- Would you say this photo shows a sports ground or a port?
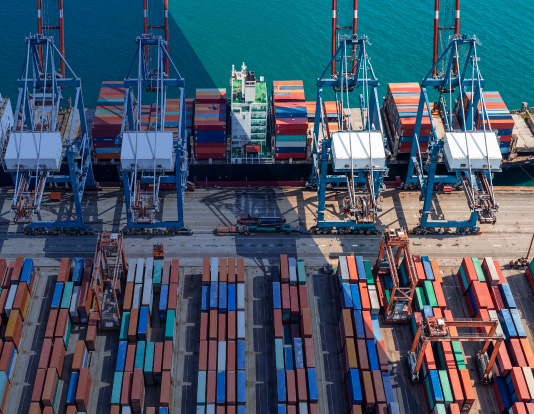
port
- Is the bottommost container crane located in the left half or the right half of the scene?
right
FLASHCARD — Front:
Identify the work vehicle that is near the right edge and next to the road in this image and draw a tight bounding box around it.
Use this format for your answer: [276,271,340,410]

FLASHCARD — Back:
[500,245,534,283]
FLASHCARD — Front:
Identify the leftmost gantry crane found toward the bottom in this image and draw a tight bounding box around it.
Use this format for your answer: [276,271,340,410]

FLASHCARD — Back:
[88,236,127,321]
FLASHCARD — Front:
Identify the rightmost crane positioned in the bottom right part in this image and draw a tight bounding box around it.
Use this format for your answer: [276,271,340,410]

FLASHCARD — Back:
[408,313,505,382]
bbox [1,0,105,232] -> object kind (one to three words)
container crane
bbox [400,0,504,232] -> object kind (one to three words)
container crane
